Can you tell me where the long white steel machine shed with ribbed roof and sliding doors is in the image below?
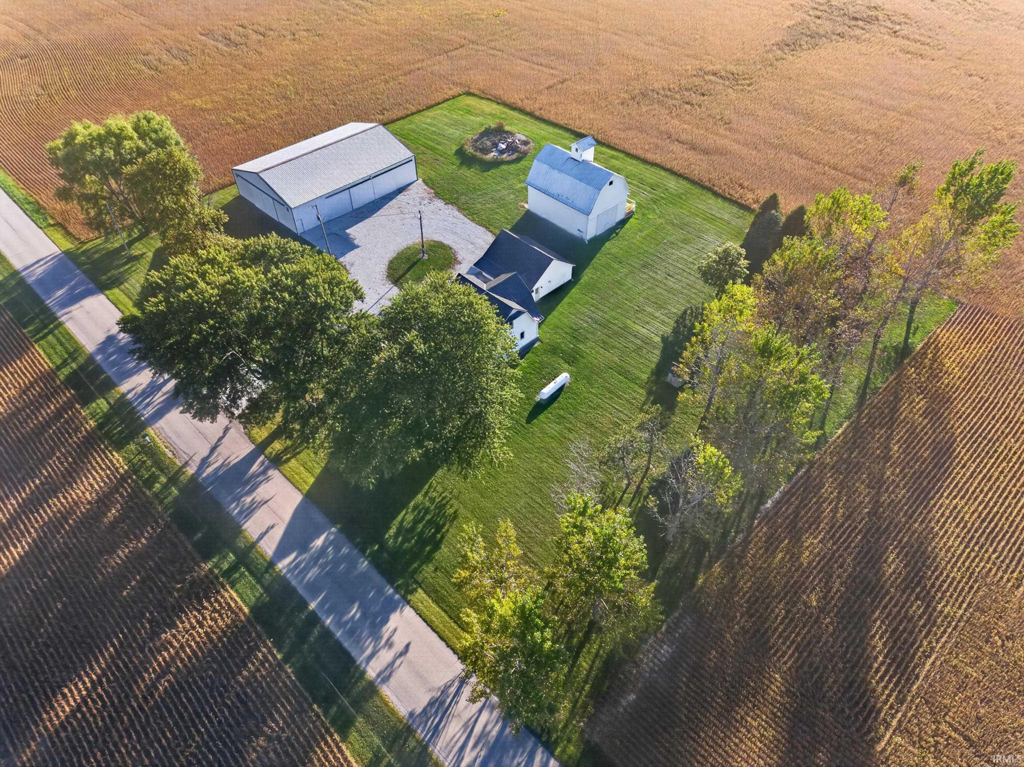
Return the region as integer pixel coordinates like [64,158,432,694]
[231,122,418,235]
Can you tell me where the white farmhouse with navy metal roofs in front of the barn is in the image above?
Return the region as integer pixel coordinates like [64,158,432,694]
[451,231,577,350]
